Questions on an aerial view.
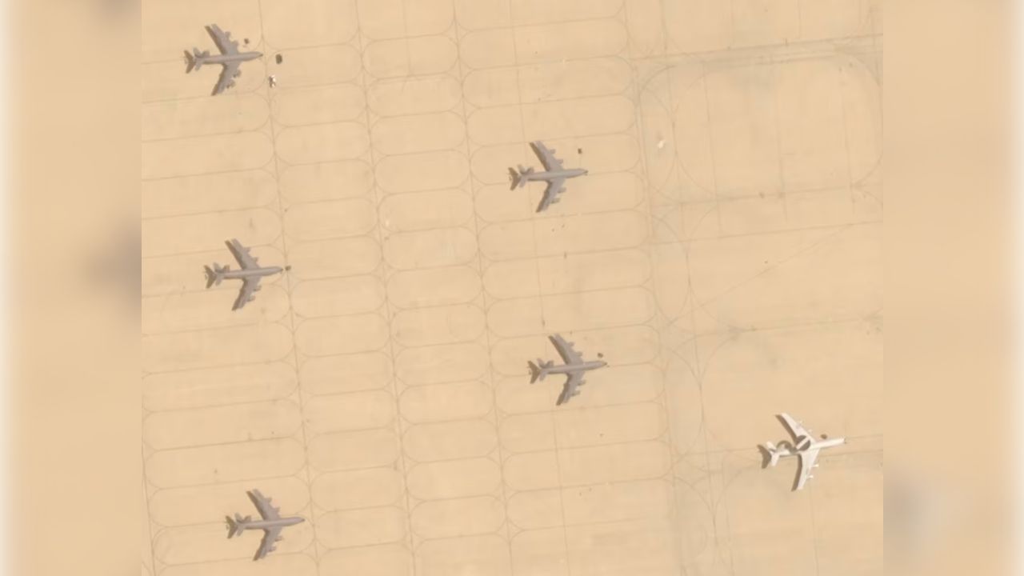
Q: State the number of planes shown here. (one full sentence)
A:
The picture shows 6 planes.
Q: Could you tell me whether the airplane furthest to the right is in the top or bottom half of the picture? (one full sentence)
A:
You can find the airplane furthest to the right in the bottom half.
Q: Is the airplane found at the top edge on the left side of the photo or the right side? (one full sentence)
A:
The airplane found at the top edge is on the left side of the image.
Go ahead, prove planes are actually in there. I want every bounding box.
[517,140,588,210]
[234,489,304,559]
[537,333,607,403]
[212,238,283,309]
[192,23,263,93]
[766,413,845,488]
